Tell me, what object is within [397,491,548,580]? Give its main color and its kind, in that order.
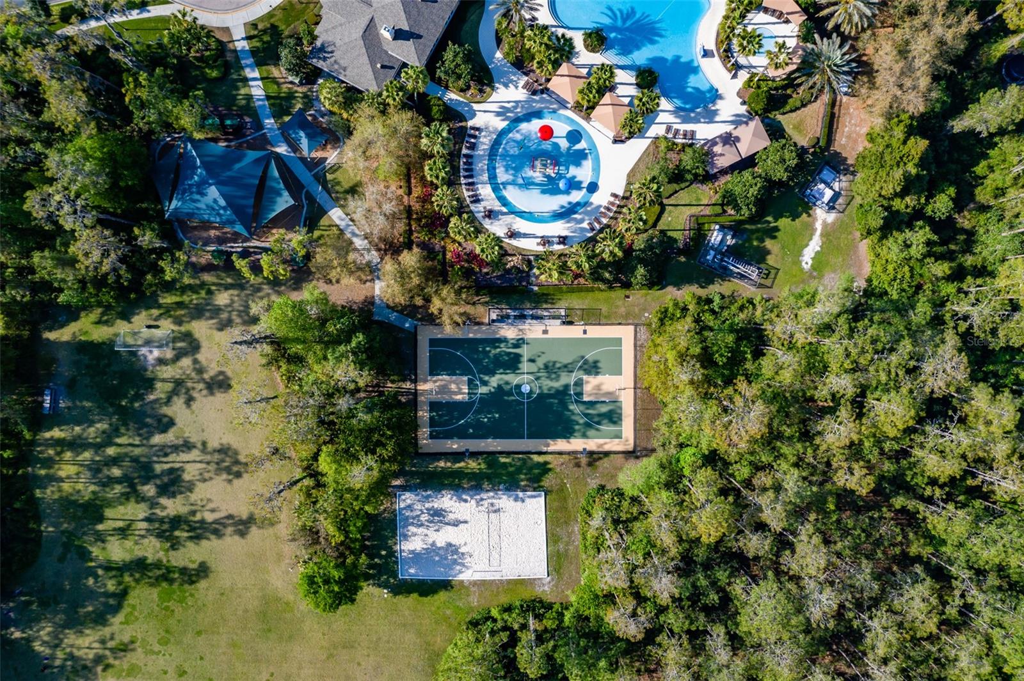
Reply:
white sports court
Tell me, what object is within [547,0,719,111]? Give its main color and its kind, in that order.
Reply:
blue swimming pool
